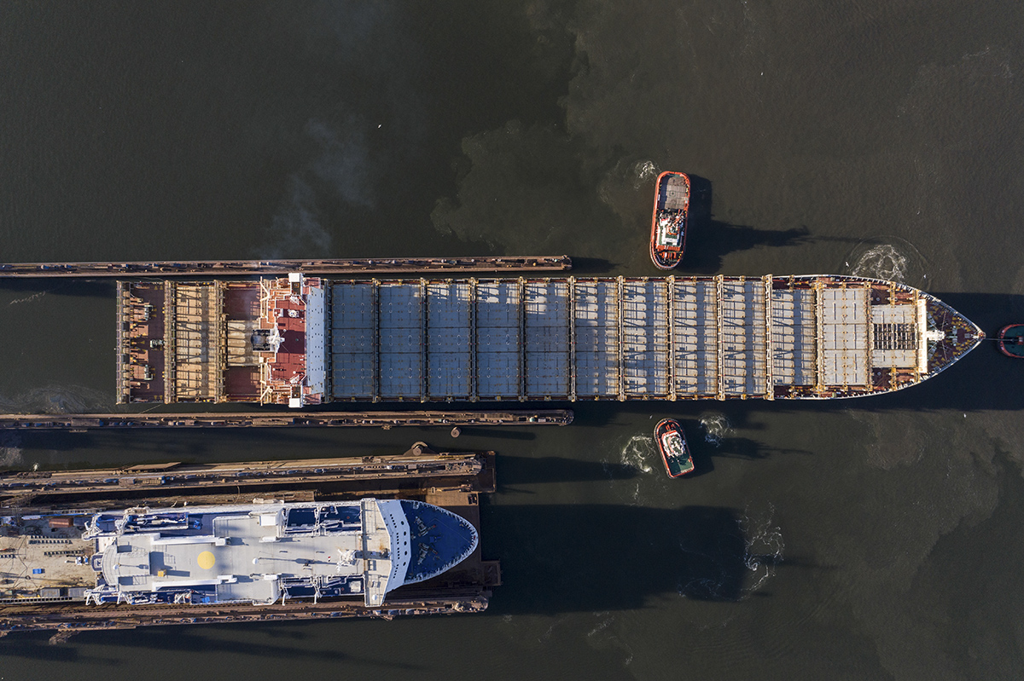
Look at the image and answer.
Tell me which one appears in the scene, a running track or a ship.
ship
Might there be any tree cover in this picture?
No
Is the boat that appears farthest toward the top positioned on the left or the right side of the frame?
right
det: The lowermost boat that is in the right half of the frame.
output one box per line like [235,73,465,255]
[654,416,701,483]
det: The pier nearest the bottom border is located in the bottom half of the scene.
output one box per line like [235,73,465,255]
[0,436,503,639]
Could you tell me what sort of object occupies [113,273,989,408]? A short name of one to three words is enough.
ship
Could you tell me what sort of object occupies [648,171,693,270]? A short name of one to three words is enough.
boat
